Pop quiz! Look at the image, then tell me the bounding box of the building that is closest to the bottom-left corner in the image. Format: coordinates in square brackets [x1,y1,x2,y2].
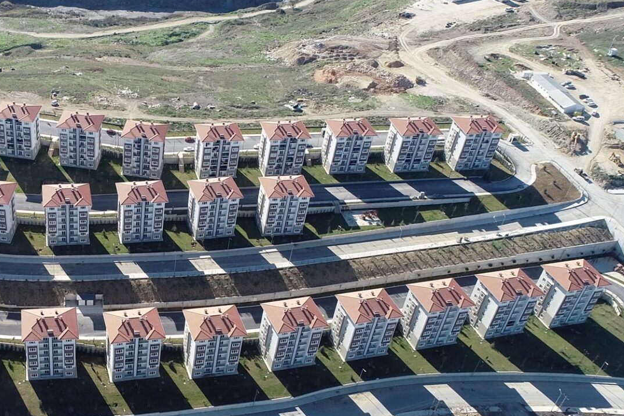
[22,307,79,383]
